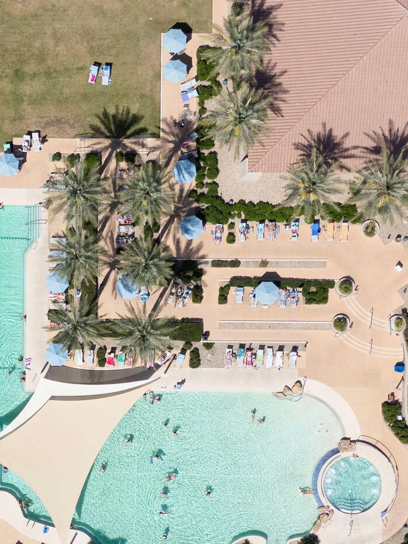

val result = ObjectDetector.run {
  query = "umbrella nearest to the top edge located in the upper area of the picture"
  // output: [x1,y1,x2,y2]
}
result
[163,29,187,53]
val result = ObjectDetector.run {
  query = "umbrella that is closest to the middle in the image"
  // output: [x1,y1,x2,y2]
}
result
[179,215,203,239]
